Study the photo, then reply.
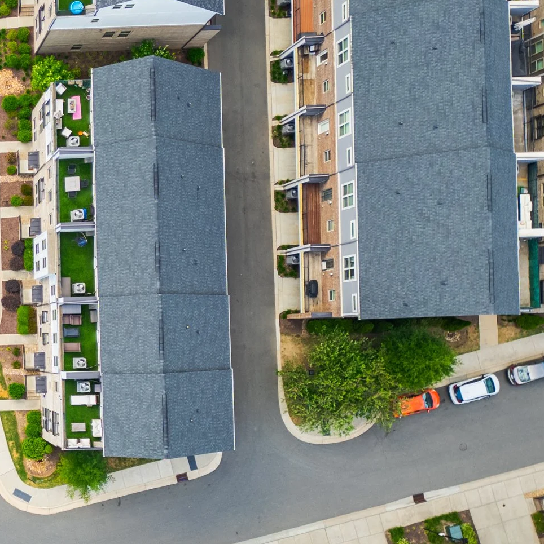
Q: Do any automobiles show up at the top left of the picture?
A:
No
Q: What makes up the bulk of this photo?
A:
buildings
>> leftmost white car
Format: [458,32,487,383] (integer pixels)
[447,374,500,404]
